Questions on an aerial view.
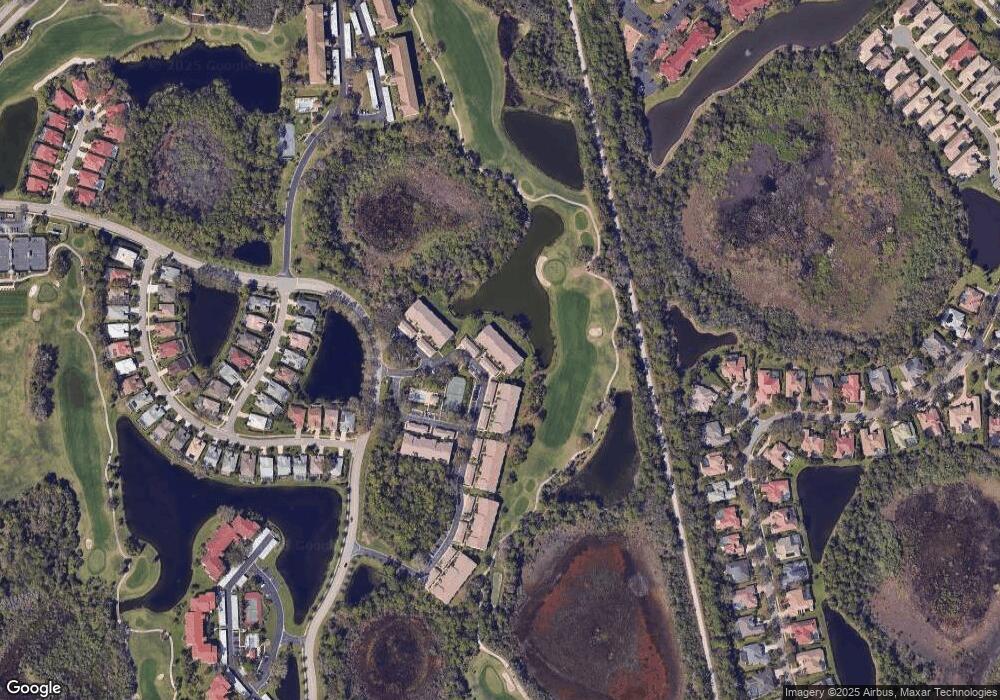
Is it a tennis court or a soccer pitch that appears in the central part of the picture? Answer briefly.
tennis court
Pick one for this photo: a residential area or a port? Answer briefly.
residential area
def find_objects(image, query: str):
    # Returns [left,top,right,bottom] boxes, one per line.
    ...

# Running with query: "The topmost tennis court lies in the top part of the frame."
[281,123,295,159]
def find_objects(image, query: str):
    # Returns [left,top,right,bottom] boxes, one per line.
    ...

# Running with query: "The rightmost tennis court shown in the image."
[447,376,467,408]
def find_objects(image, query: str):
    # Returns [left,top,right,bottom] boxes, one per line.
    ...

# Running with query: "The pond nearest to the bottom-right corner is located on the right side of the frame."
[822,602,878,700]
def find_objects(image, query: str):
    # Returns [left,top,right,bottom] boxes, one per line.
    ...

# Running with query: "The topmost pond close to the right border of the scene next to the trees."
[960,186,1000,271]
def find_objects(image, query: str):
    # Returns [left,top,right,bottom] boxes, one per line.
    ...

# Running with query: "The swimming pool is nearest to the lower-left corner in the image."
[245,633,259,648]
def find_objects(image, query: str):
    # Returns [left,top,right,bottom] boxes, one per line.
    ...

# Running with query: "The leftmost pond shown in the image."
[0,97,38,193]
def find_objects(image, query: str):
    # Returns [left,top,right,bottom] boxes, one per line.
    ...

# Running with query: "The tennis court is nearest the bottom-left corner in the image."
[244,593,262,624]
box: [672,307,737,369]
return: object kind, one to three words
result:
pond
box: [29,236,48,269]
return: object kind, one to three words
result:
tennis court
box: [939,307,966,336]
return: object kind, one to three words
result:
house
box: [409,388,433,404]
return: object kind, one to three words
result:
swimming pool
